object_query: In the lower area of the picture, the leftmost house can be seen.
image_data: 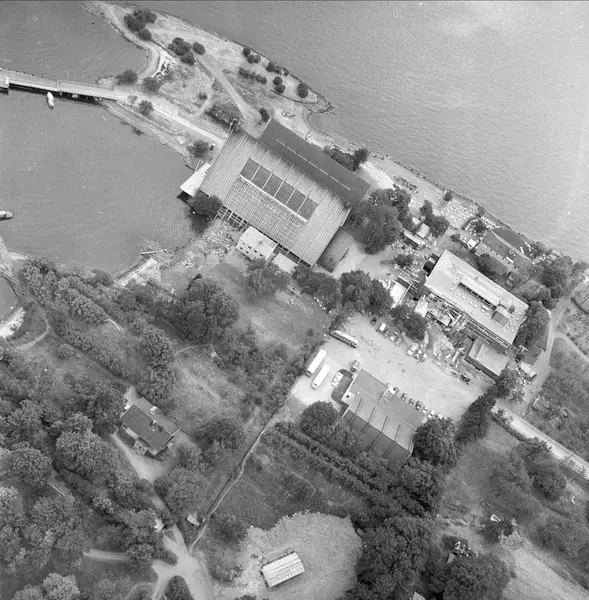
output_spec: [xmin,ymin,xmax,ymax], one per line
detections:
[121,397,179,456]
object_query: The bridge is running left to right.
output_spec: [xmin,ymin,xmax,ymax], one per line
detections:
[0,68,106,102]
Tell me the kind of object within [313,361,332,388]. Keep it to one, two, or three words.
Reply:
vehicle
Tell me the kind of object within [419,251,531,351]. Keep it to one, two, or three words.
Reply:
building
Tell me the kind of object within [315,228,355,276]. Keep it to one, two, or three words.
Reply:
shed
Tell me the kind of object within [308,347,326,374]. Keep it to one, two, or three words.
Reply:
vehicle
